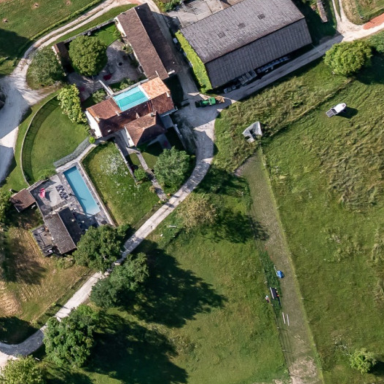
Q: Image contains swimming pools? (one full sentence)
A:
Yes, you can see a swimming pool in this photo.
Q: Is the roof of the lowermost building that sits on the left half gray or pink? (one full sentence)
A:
From above, the roof of the lowermost building that sits on the left half appears gray.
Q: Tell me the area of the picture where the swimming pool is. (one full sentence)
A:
The swimming pool is located in the left region of the scene.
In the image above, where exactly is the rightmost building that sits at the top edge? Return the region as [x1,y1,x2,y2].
[178,0,312,89]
